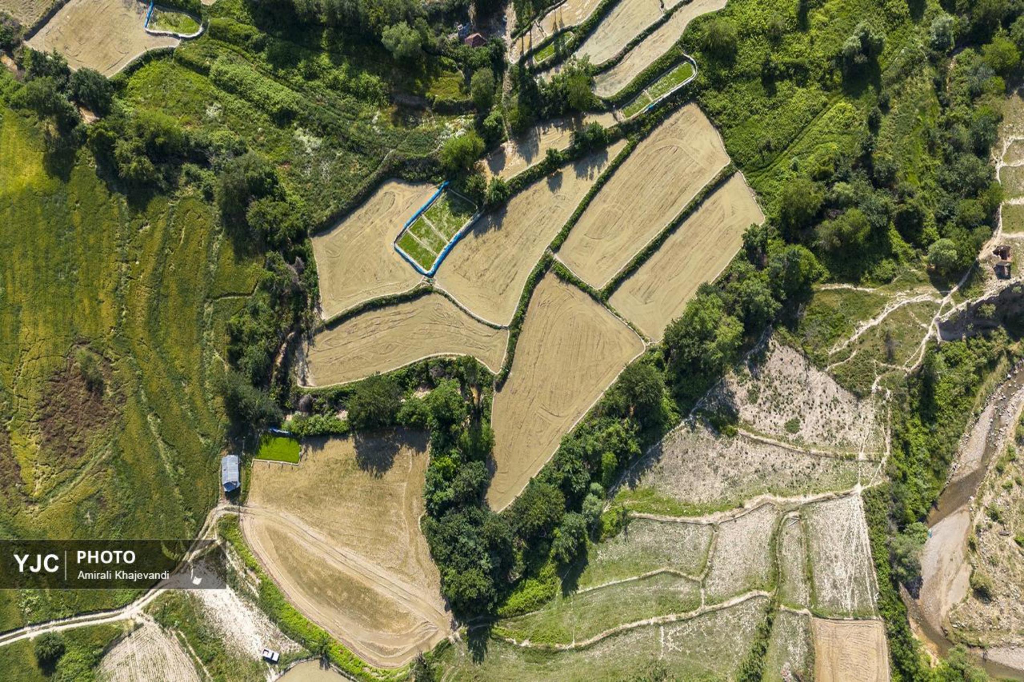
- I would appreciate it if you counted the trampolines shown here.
none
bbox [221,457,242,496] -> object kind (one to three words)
barn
